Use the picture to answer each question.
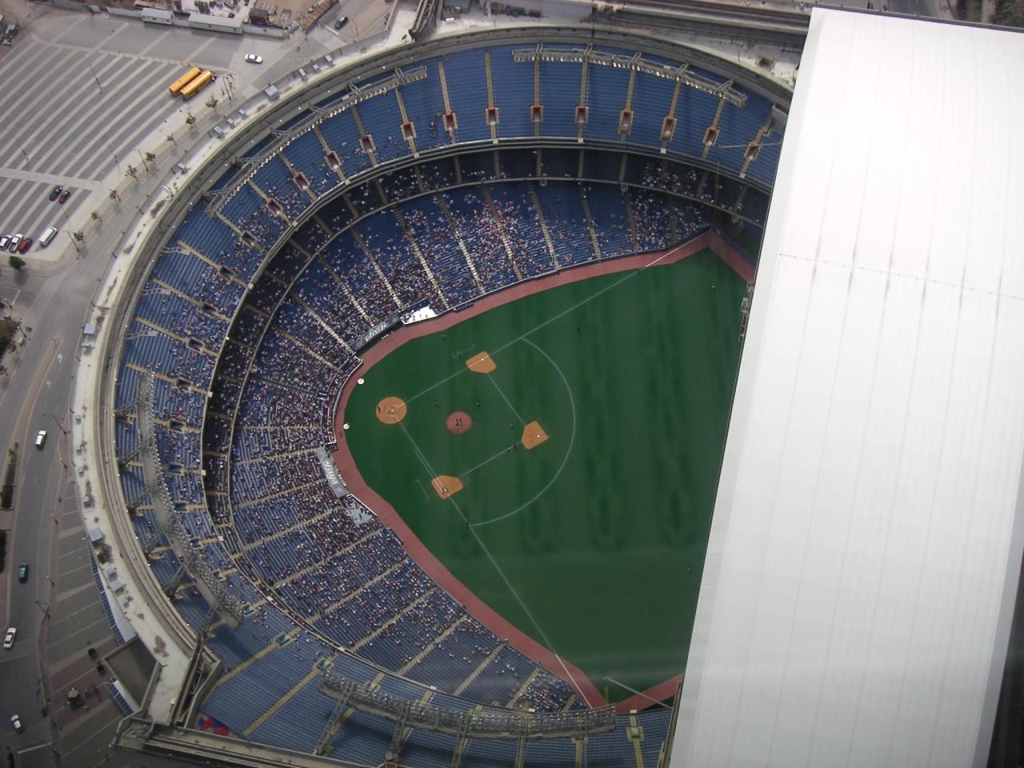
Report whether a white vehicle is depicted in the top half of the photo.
Yes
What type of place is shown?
sports ground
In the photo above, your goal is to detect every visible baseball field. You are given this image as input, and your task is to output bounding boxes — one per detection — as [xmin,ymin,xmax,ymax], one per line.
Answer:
[331,233,754,704]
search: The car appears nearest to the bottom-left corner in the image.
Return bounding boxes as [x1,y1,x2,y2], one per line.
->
[10,713,23,731]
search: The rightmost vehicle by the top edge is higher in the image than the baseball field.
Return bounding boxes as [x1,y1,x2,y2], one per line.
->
[333,16,348,28]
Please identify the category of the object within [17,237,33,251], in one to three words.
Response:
car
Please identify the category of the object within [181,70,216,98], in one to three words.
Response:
bus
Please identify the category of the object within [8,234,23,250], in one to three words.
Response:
vehicle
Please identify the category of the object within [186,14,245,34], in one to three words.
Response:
building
